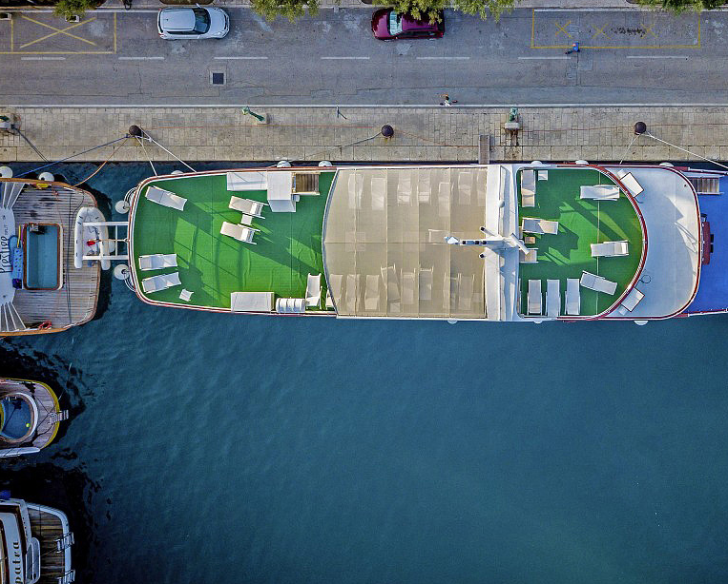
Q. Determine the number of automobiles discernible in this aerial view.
two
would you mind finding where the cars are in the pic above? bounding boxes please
[158,2,231,40]
[374,8,444,41]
